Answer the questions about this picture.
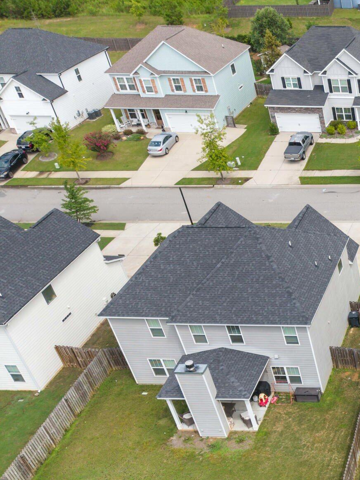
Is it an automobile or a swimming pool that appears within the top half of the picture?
automobile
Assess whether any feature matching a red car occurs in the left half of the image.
No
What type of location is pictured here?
residential area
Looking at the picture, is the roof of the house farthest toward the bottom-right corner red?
No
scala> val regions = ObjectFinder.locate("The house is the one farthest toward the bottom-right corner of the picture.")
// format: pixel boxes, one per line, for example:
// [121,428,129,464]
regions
[94,202,360,437]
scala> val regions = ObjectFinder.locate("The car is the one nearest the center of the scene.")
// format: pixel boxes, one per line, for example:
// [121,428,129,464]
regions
[150,135,176,152]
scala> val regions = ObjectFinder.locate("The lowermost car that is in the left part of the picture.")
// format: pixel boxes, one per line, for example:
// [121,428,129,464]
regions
[0,154,24,175]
